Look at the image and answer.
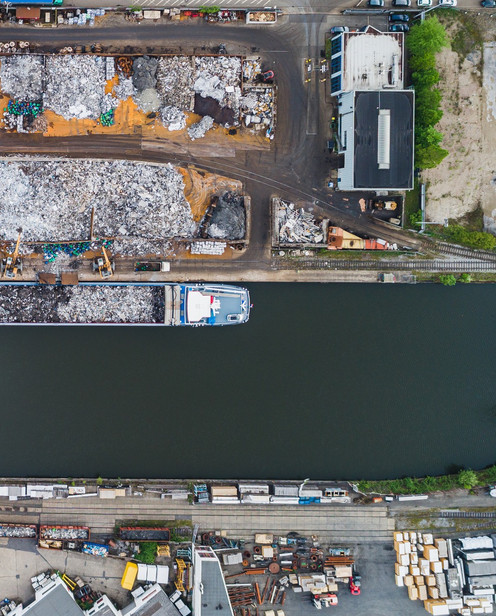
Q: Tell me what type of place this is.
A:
port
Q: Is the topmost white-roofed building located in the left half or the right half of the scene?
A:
right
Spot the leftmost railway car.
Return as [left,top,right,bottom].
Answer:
[0,523,39,538]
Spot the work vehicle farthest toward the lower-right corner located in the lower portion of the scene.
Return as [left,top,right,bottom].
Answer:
[347,569,362,600]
